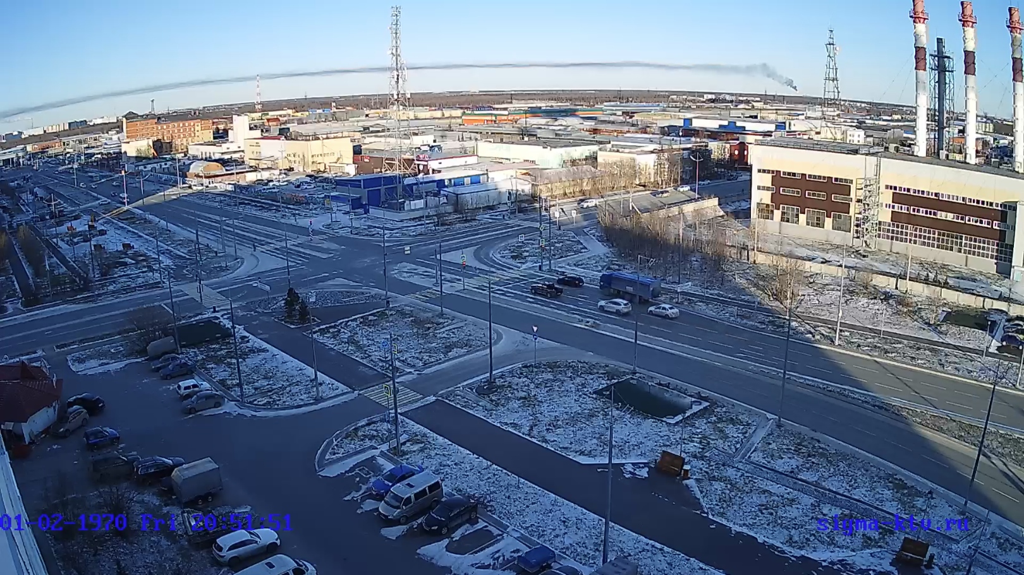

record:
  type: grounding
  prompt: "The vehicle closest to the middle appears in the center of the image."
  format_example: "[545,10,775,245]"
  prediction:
[530,281,562,297]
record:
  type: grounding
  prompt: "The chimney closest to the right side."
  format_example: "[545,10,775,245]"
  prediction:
[1005,6,1023,170]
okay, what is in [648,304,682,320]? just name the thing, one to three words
car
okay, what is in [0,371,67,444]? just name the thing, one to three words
building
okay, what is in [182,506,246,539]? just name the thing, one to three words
trailer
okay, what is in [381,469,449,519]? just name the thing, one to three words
vehicle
